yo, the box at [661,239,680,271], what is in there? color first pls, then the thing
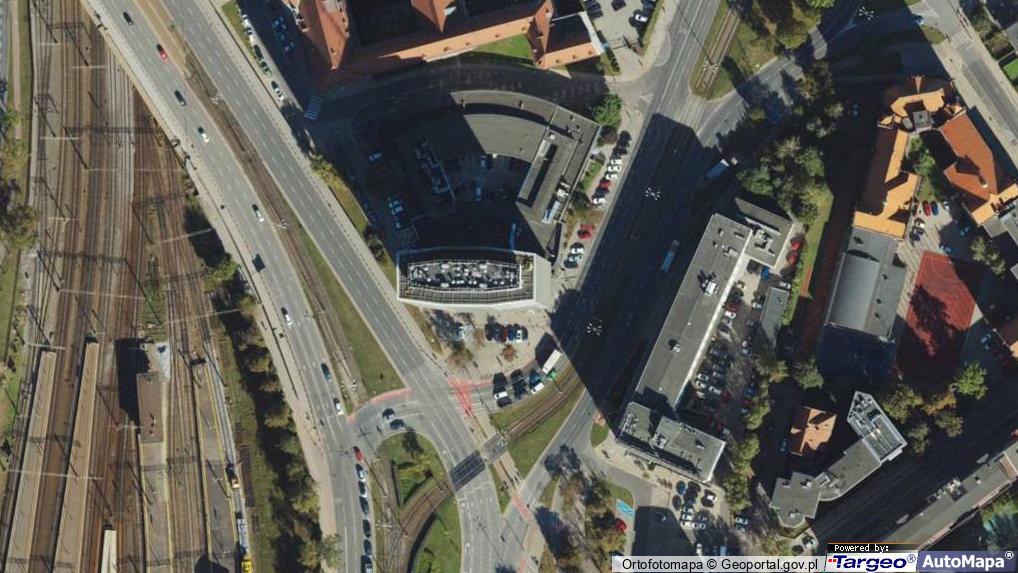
blue vehicle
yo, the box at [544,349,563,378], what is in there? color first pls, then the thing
white vehicle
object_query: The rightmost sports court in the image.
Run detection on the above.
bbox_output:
[894,252,984,389]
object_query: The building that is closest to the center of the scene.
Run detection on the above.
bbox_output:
[398,247,552,313]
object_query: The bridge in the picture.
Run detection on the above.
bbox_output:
[81,0,224,212]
